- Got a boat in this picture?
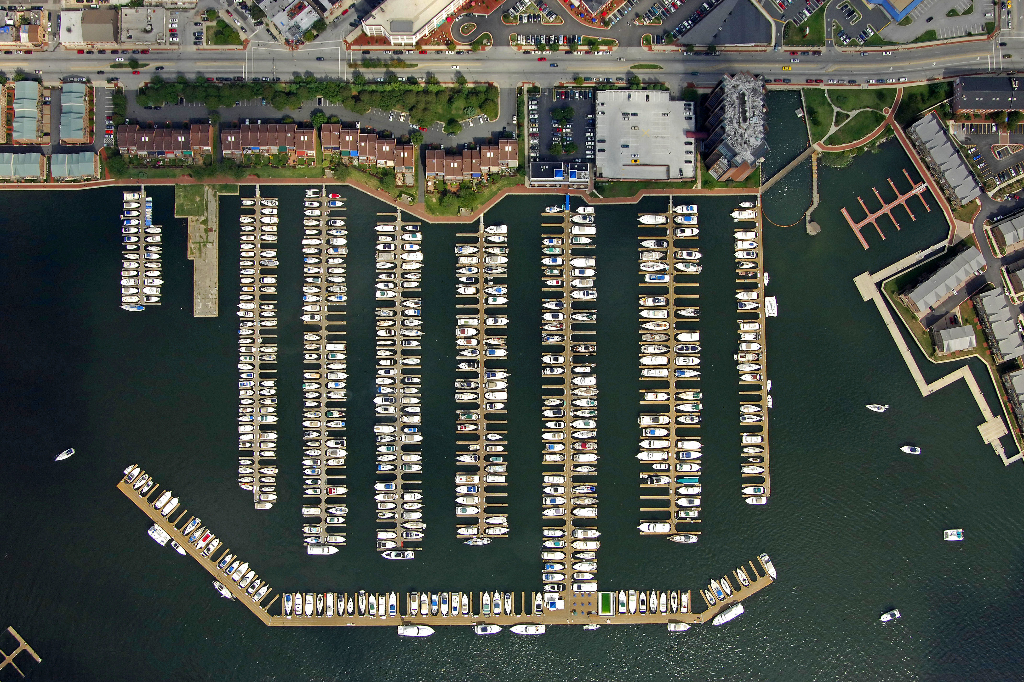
Yes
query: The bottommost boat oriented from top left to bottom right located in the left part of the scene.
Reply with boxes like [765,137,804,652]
[211,580,235,602]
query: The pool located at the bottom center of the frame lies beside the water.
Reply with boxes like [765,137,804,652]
[597,592,615,616]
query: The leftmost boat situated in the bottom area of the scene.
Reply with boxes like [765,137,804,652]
[52,448,76,461]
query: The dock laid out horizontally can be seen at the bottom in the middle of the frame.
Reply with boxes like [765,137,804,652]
[117,465,773,626]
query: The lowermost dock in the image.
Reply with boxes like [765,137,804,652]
[0,627,42,678]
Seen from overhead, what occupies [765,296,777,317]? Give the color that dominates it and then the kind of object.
white boat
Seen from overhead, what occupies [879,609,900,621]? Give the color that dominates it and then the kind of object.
white boat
